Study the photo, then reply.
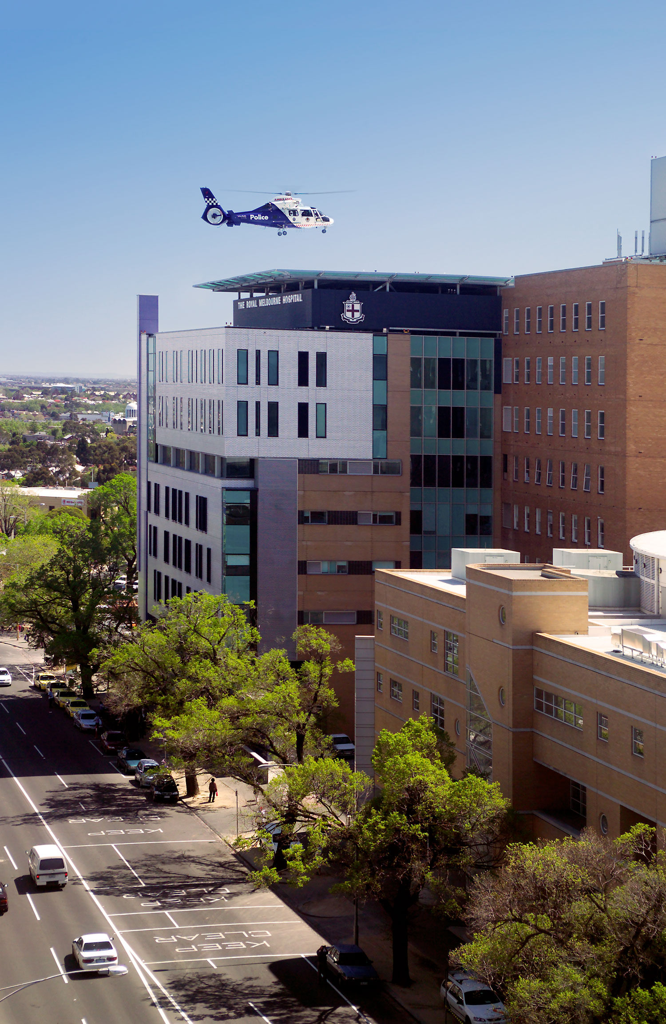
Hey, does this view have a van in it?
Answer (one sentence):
Yes, I can see a van in this picture.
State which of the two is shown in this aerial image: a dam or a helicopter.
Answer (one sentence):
There is a helicopter in the scene.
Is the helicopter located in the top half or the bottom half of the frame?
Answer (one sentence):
It is in the top half that the helicopter appears.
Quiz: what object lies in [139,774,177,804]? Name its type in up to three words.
car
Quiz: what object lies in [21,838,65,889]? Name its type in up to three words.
van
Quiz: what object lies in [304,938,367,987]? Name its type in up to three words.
car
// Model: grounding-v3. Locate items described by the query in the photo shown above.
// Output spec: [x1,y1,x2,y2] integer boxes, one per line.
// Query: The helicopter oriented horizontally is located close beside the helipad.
[201,186,355,237]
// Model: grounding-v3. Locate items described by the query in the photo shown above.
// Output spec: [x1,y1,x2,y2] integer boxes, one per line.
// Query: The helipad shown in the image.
[213,275,497,292]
